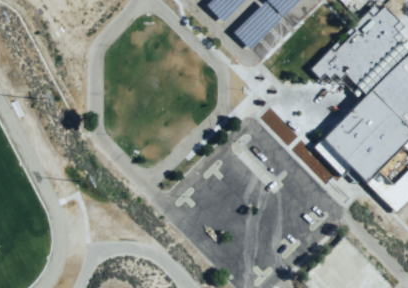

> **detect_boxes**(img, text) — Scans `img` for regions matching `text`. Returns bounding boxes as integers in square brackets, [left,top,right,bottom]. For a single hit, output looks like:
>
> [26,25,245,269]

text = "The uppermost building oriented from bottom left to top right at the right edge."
[310,7,402,85]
